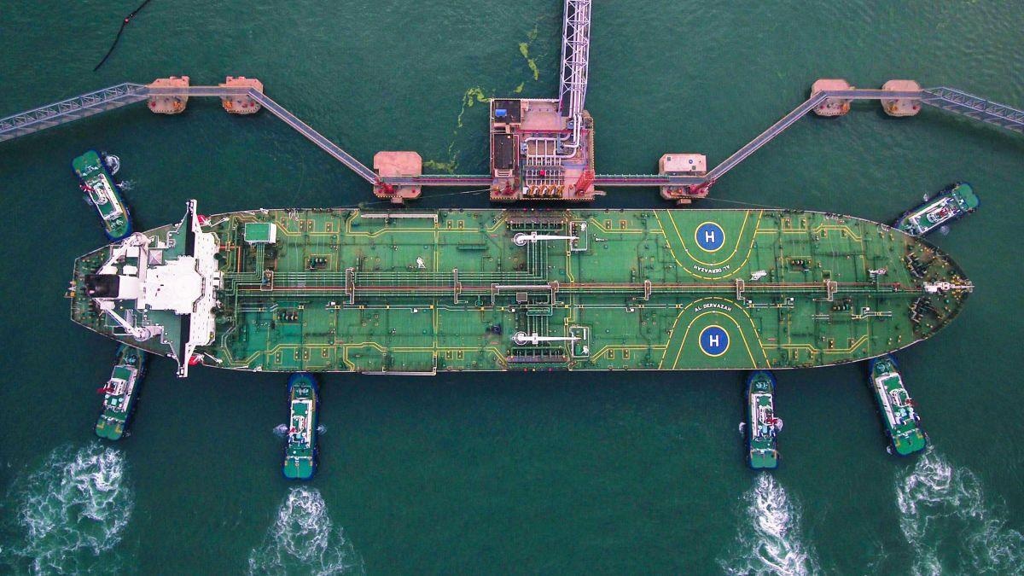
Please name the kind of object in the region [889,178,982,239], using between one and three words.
boat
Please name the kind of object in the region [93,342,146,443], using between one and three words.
boat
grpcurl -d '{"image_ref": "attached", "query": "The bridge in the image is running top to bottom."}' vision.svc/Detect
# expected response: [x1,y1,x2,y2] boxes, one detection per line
[558,0,591,110]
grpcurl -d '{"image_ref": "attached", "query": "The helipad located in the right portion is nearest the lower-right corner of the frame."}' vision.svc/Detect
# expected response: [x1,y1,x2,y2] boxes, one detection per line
[659,297,770,368]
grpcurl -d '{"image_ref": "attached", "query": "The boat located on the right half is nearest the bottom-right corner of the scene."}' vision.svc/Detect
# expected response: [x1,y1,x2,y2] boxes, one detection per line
[871,354,925,456]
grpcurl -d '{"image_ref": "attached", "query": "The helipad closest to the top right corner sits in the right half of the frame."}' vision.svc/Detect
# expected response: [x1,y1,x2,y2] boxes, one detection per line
[654,210,763,279]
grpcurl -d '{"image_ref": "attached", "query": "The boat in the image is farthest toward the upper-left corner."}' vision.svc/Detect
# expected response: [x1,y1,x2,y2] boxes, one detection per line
[68,148,135,245]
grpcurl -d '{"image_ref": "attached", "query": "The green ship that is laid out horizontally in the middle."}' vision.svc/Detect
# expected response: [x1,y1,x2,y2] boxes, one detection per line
[63,200,976,377]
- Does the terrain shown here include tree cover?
No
